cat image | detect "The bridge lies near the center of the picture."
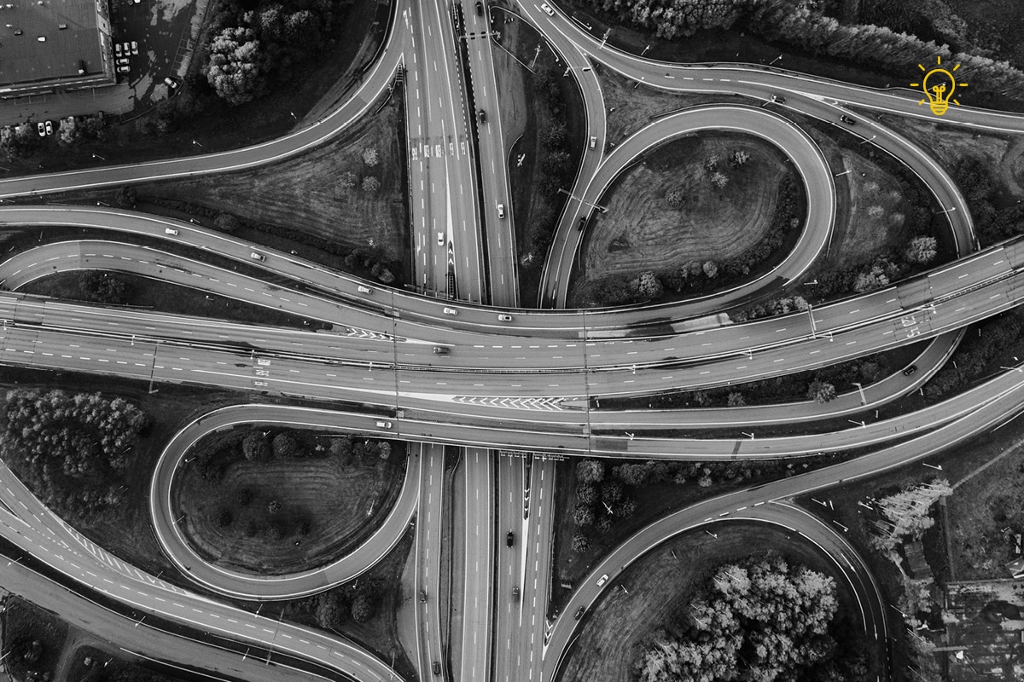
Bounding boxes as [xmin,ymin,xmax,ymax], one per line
[394,290,590,457]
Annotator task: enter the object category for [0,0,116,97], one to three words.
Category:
building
